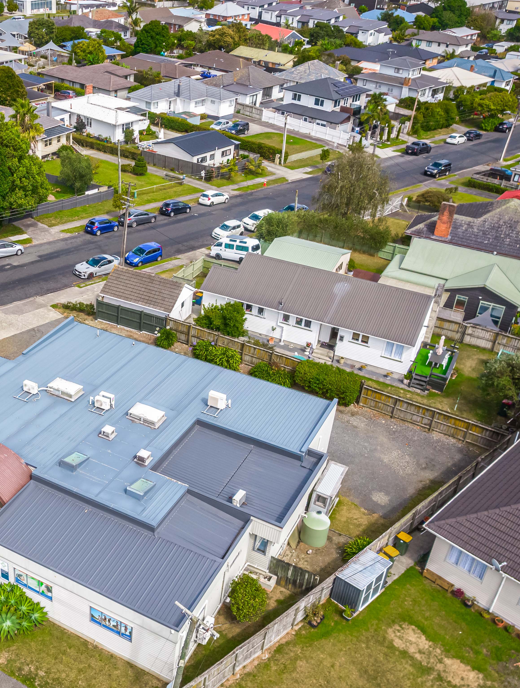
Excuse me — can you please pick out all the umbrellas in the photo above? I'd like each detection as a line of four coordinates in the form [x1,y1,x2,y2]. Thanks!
[18,39,37,49]
[437,335,446,355]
